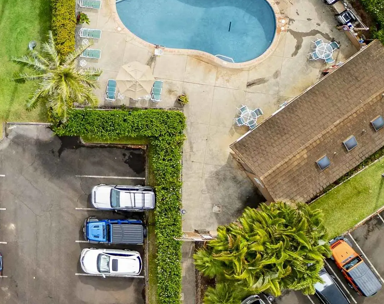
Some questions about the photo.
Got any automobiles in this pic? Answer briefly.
Yes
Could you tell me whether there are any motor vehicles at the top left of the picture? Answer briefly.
No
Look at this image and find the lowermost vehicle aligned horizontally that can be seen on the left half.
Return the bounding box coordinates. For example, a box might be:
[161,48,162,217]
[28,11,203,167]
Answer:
[80,247,142,277]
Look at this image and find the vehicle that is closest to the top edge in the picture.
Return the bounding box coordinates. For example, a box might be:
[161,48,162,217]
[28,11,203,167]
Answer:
[90,183,156,213]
